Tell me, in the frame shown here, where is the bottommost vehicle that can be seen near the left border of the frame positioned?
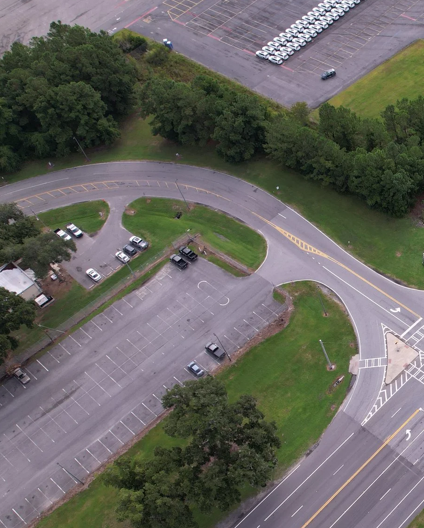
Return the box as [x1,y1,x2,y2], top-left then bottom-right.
[11,368,30,383]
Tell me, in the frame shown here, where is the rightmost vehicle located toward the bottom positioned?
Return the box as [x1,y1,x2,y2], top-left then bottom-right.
[204,342,226,359]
